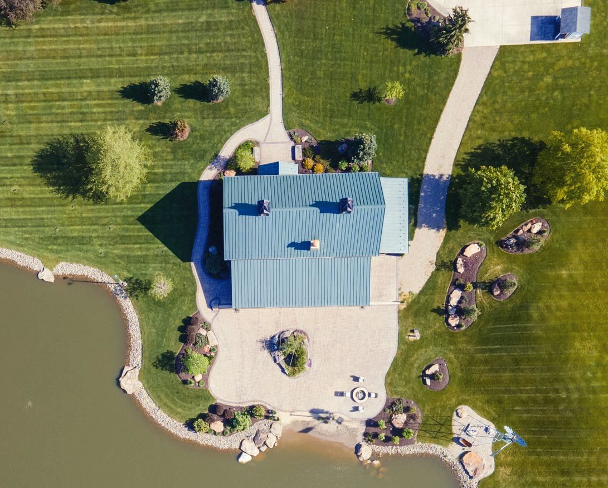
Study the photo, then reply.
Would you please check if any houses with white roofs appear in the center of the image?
No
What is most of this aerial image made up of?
grass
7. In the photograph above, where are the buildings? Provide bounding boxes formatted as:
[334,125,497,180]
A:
[223,161,408,310]
[557,3,592,40]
